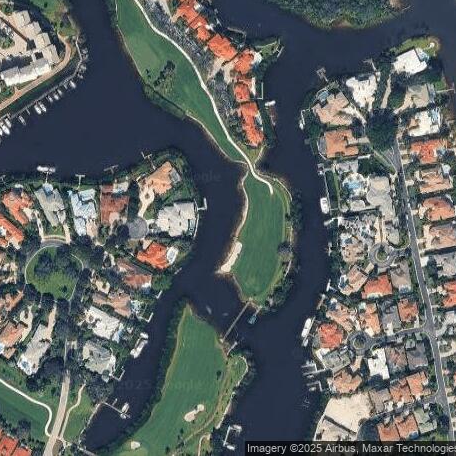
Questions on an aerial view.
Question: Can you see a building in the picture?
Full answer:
Yes, the frame does contain a building.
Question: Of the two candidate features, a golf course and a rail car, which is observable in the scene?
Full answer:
This aerial view contains a golf course.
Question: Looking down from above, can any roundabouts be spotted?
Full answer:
Yes, I can see a roundabout in this picture.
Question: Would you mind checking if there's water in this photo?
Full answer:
Yes, there's water in this view.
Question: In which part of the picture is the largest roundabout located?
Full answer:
The largest roundabout sits in the left section of the image.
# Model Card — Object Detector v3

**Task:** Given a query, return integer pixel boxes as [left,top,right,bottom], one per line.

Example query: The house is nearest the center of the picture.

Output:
[152,198,198,236]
